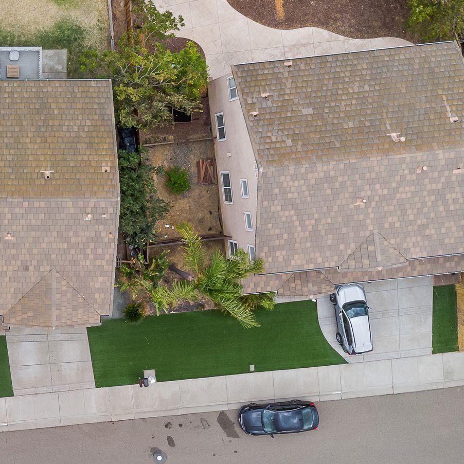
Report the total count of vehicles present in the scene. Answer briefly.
2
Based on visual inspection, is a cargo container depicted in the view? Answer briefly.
No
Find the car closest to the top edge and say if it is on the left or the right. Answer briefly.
right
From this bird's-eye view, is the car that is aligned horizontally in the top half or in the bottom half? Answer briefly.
bottom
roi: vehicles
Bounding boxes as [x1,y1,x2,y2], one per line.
[237,398,318,439]
[330,285,377,356]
